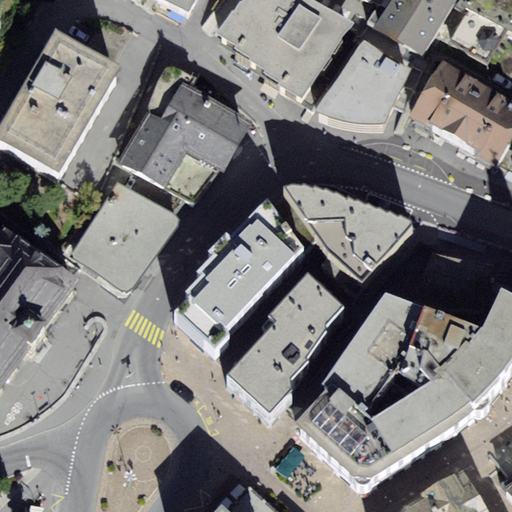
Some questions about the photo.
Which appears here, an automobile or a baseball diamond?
automobile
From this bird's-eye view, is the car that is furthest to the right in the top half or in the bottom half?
top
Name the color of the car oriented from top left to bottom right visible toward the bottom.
black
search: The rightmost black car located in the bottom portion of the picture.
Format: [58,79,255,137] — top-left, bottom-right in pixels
[168,379,196,404]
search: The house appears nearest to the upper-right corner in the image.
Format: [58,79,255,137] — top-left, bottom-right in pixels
[445,5,510,68]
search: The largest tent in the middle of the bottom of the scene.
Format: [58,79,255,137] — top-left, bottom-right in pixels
[276,448,305,480]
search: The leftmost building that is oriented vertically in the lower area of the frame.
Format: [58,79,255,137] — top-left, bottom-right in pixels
[0,226,84,406]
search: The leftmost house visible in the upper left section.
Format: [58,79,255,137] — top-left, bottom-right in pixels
[0,28,122,181]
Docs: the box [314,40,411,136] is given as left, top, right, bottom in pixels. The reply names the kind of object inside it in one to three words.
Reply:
building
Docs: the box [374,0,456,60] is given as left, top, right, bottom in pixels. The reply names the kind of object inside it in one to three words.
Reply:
house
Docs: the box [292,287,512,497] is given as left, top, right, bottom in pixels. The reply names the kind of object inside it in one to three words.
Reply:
building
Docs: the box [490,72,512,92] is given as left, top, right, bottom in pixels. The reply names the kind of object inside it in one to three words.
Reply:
car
